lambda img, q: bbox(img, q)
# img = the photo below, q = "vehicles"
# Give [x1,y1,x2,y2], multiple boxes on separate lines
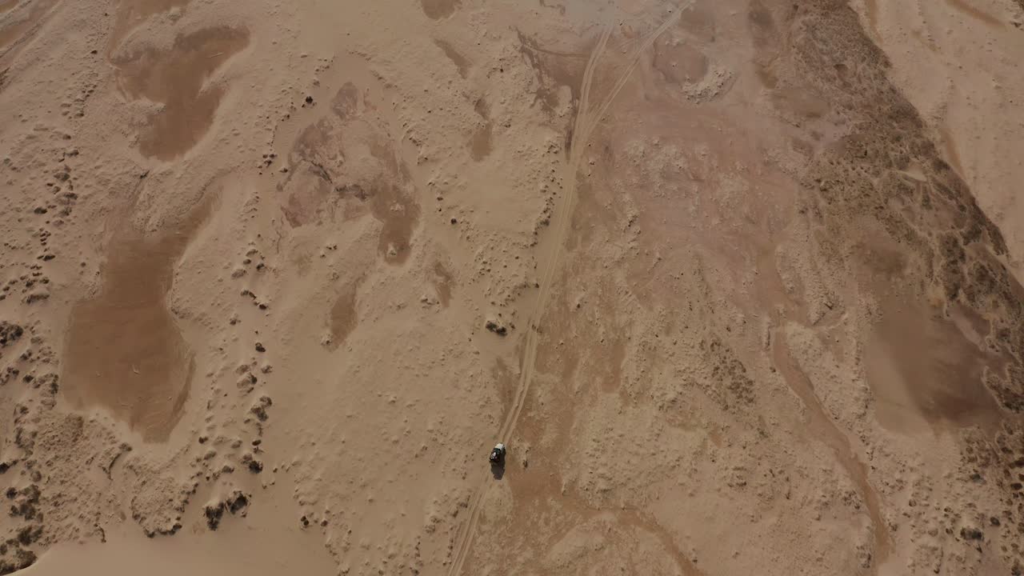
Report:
[489,443,505,464]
